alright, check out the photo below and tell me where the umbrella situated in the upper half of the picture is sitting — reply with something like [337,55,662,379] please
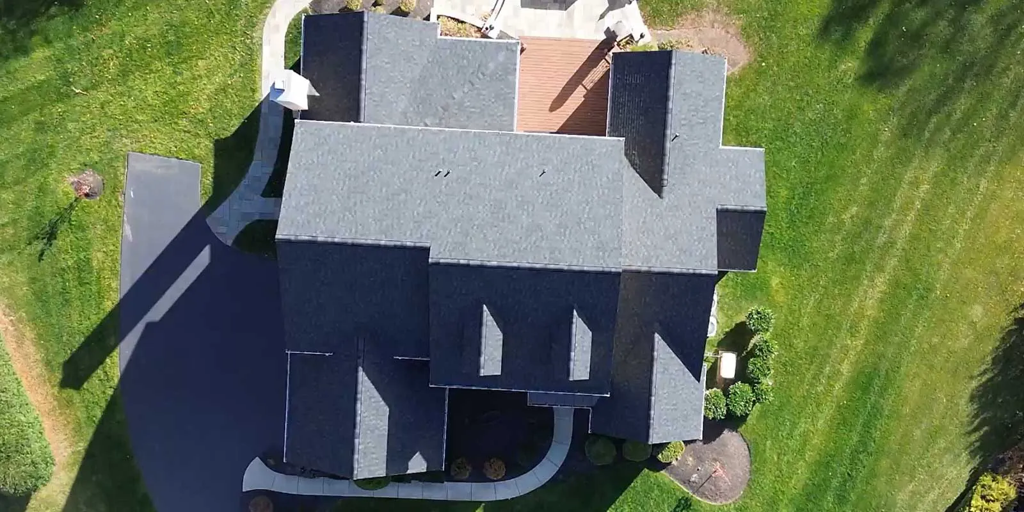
[609,22,625,41]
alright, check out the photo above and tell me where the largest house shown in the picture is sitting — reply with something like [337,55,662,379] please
[268,10,768,479]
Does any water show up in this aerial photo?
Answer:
No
